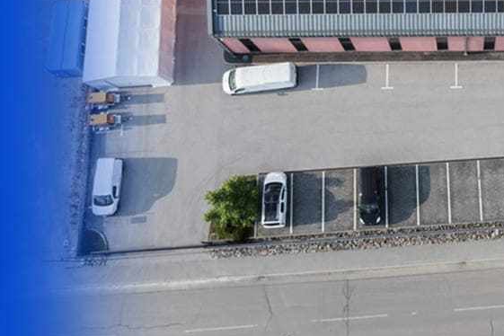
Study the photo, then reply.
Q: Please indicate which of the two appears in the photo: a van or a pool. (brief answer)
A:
van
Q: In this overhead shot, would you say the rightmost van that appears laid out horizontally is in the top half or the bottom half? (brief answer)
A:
top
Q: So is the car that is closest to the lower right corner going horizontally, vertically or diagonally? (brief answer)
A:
vertically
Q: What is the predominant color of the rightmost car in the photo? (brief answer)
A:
black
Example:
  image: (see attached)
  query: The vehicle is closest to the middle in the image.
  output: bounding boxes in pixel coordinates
[261,171,288,230]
